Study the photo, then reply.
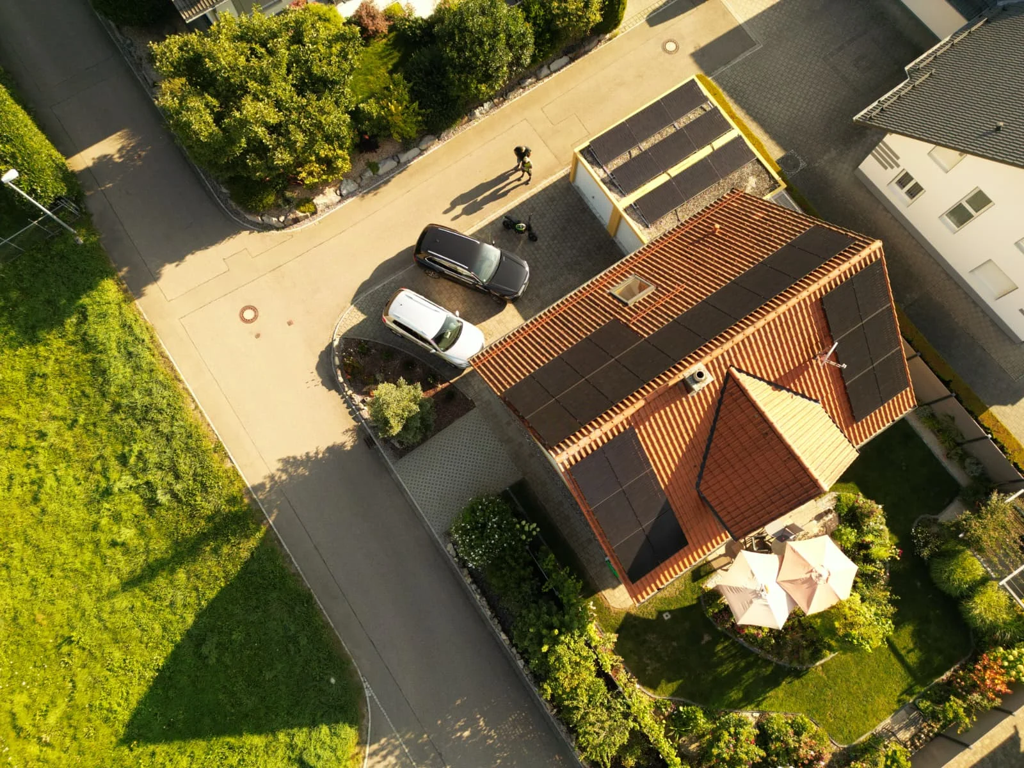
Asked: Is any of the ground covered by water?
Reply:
No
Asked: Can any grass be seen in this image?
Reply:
Yes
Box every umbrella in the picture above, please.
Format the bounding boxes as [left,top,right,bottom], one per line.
[776,535,858,616]
[718,550,792,629]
